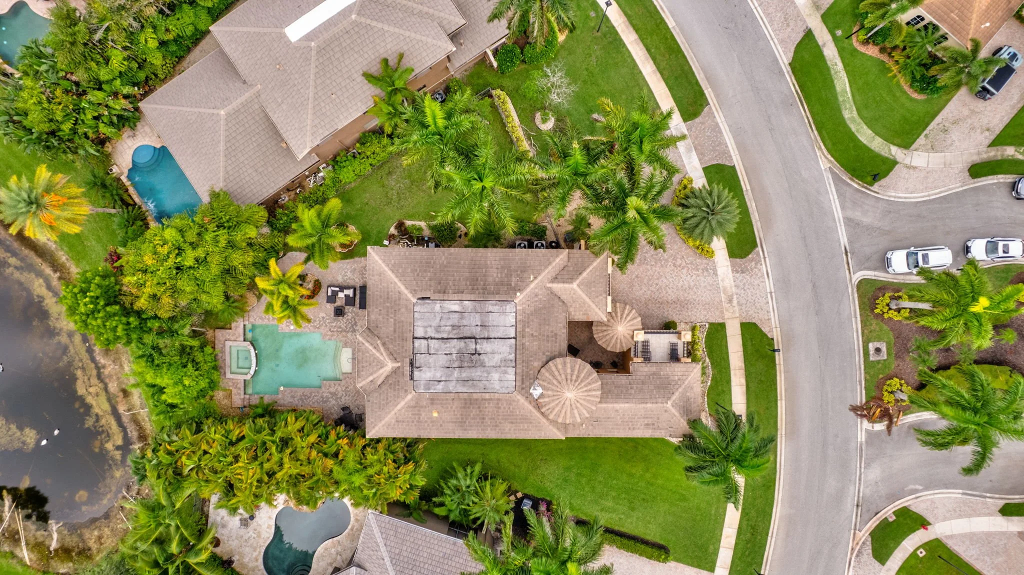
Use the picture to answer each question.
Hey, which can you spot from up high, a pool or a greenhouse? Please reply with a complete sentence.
There is a pool in the scene.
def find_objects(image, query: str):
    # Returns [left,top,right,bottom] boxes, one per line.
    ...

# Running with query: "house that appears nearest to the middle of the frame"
[355,245,703,441]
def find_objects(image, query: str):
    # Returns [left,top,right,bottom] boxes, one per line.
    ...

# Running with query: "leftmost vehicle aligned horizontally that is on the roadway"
[882,246,951,275]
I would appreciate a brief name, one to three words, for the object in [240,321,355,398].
swimming pool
